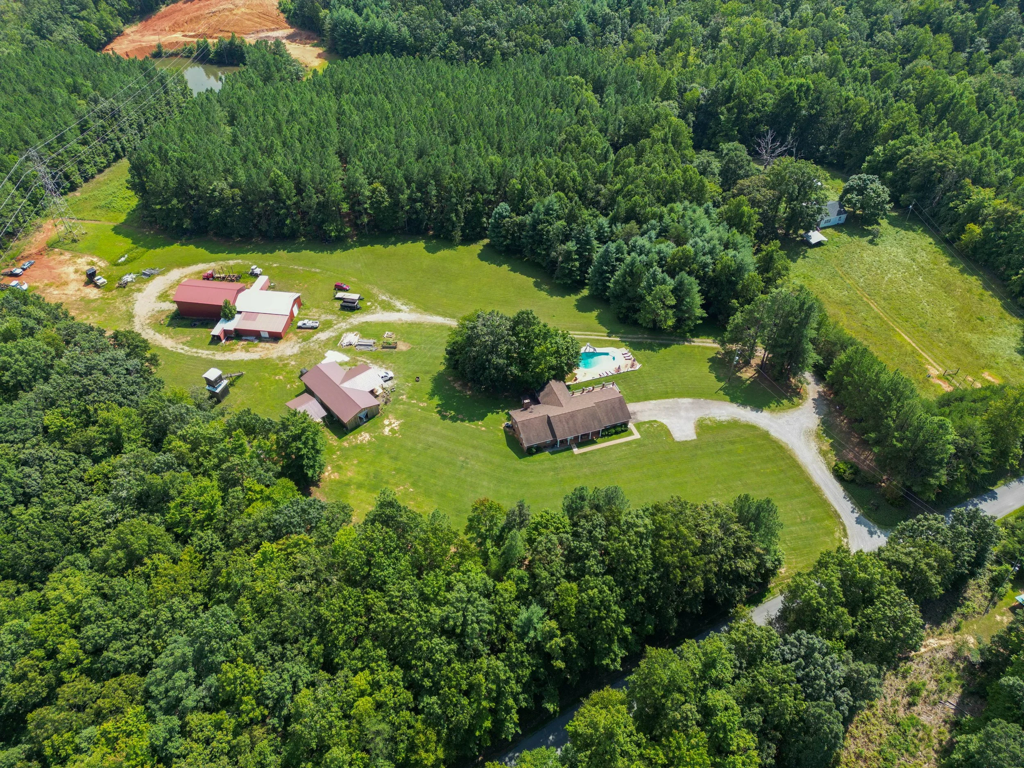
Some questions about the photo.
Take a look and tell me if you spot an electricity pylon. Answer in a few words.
Yes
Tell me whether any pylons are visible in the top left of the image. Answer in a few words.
Yes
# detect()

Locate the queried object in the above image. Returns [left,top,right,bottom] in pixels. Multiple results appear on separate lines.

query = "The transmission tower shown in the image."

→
[22,151,89,243]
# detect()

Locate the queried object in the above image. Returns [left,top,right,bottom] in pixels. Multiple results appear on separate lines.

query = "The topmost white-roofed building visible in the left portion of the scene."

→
[210,275,302,341]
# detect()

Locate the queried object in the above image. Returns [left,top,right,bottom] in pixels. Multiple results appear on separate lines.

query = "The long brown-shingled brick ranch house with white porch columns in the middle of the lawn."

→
[509,379,632,455]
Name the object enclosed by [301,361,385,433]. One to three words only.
barn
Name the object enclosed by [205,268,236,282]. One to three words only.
vehicle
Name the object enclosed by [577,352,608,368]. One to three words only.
swimming pool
